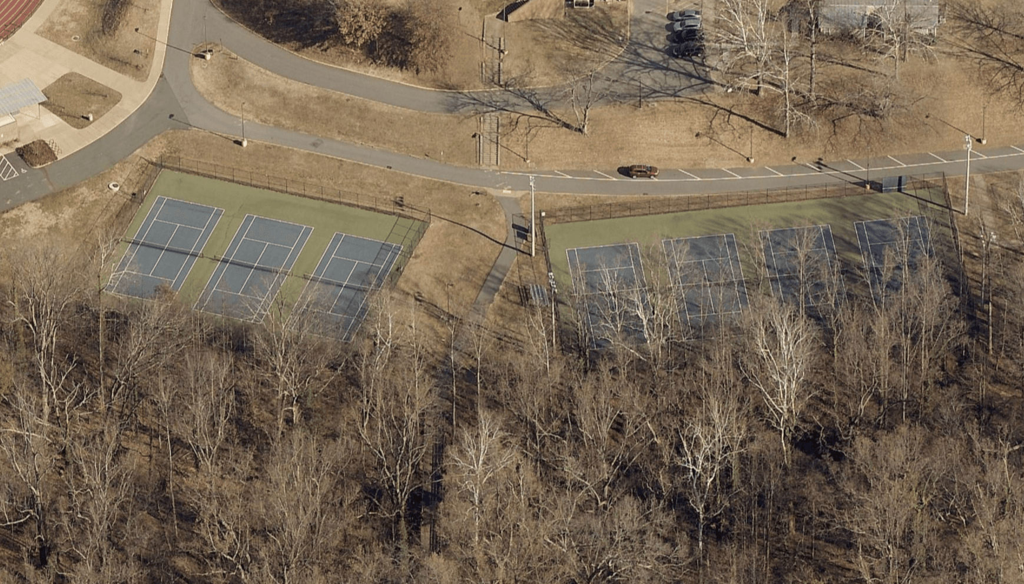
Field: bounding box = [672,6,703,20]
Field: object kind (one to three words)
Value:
car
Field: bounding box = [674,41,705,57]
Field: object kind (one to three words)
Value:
car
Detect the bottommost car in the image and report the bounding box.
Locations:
[627,167,659,181]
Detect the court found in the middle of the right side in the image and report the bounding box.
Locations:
[543,187,981,372]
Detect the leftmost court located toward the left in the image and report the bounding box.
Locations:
[86,169,427,363]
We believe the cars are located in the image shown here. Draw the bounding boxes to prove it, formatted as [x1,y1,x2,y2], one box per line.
[627,167,659,181]
[674,41,705,57]
[674,30,705,44]
[673,17,704,32]
[672,6,703,20]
